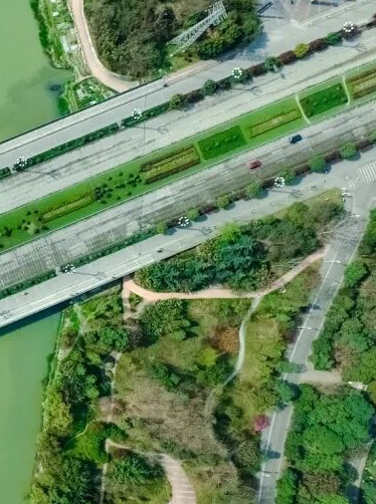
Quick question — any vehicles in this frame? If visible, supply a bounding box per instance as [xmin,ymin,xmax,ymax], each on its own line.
[288,134,301,143]
[249,161,262,169]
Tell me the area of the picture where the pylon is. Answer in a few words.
top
